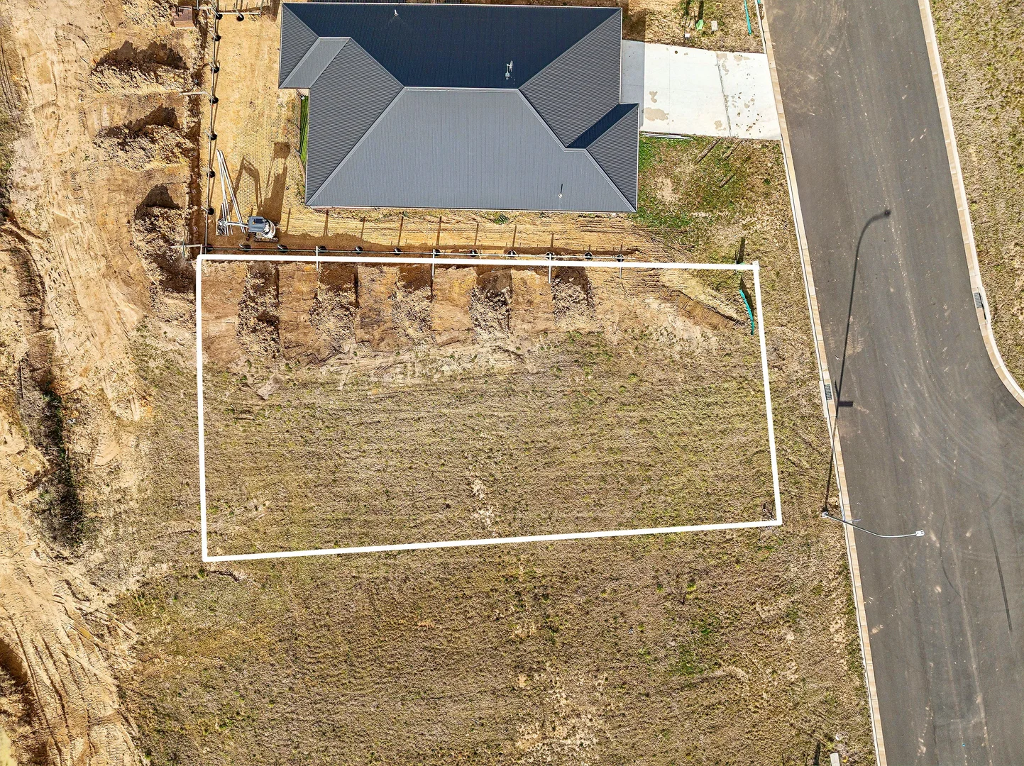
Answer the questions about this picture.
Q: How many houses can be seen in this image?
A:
1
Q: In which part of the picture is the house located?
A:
top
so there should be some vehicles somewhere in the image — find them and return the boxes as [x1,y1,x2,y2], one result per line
[214,216,280,243]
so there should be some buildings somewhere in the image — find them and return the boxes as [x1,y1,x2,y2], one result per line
[278,2,640,214]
